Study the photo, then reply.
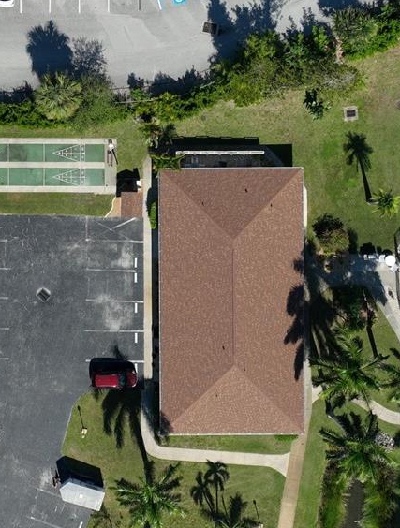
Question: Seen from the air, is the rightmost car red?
Yes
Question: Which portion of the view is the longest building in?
center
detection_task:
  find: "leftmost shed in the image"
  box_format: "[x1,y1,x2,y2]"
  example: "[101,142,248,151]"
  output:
[122,191,143,218]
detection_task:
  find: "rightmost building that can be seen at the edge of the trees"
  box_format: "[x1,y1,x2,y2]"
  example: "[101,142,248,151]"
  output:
[158,166,305,436]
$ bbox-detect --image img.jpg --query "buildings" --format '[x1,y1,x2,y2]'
[122,191,143,218]
[158,166,305,436]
